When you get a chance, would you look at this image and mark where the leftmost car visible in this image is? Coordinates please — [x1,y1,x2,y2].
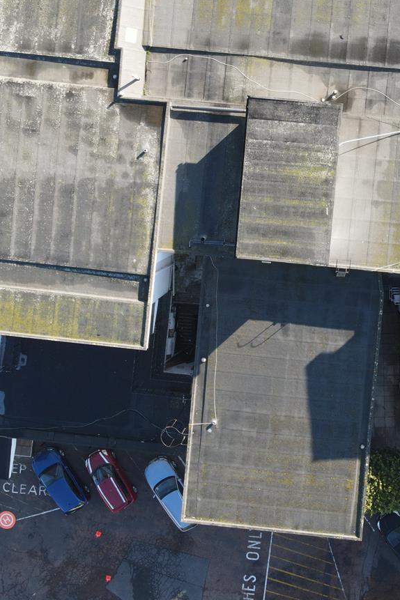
[29,448,90,522]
